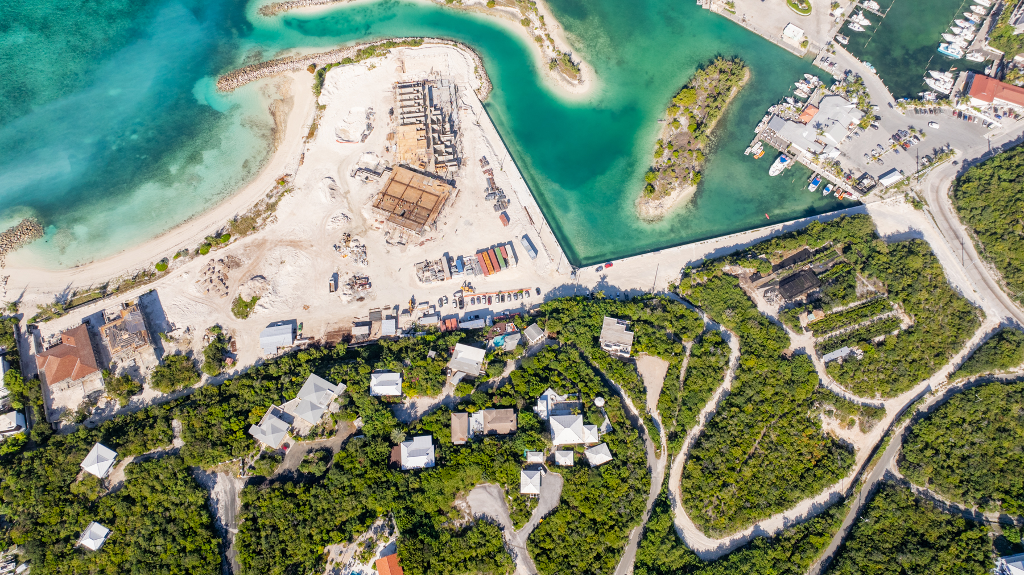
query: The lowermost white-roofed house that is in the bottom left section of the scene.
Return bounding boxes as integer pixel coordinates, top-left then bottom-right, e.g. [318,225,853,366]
[80,522,112,551]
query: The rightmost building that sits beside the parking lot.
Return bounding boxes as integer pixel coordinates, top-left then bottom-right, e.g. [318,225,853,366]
[963,74,1024,115]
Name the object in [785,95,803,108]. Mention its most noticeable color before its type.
white boat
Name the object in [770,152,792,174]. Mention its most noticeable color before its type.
white boat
